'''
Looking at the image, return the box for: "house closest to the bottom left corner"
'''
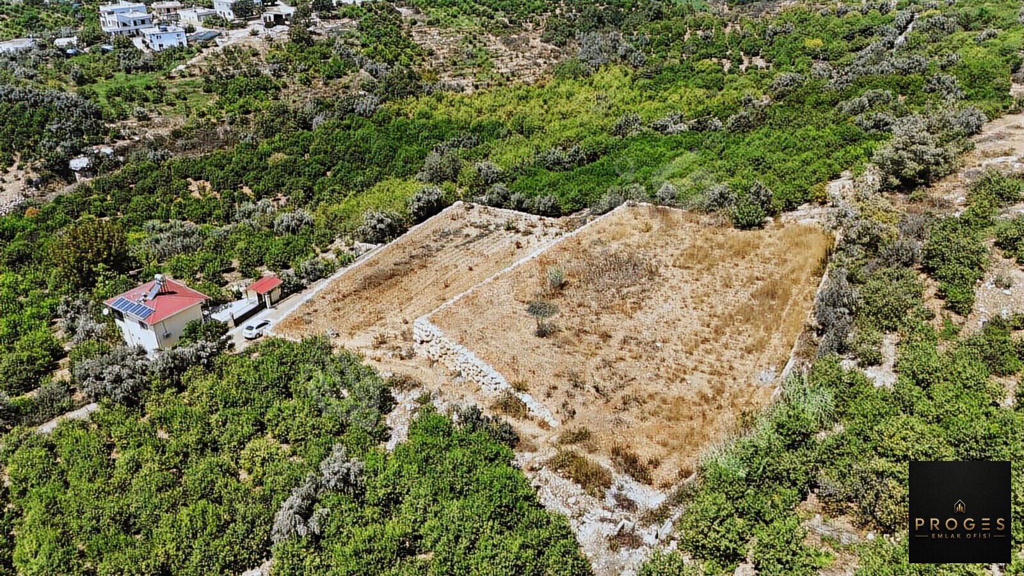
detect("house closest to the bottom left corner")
[105,278,207,369]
